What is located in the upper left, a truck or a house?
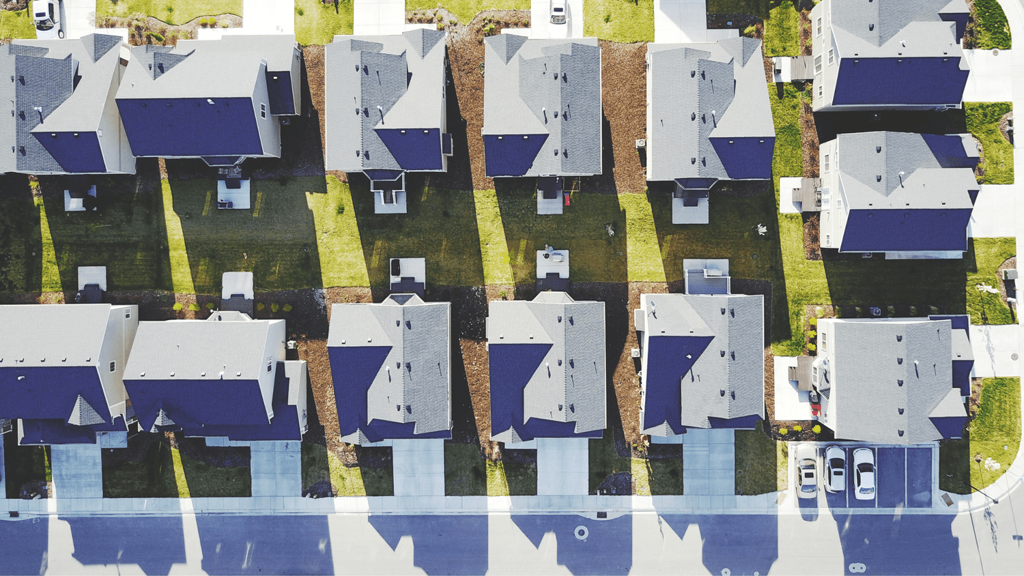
house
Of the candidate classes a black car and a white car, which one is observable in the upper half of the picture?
white car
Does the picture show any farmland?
No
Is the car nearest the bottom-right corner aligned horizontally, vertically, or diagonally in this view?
vertically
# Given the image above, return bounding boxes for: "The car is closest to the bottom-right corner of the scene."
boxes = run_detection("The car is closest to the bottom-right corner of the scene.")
[853,448,879,500]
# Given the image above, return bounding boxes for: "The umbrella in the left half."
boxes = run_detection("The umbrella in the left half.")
[82,195,106,211]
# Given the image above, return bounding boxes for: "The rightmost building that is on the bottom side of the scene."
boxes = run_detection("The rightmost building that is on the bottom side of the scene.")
[812,314,974,446]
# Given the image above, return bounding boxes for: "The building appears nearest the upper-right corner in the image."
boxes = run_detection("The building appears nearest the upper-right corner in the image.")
[812,0,970,111]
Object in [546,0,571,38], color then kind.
white car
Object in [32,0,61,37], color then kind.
white car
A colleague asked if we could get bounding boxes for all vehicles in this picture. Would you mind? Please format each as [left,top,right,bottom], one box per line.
[796,445,822,498]
[853,448,879,500]
[32,0,61,37]
[546,0,571,38]
[825,446,850,493]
